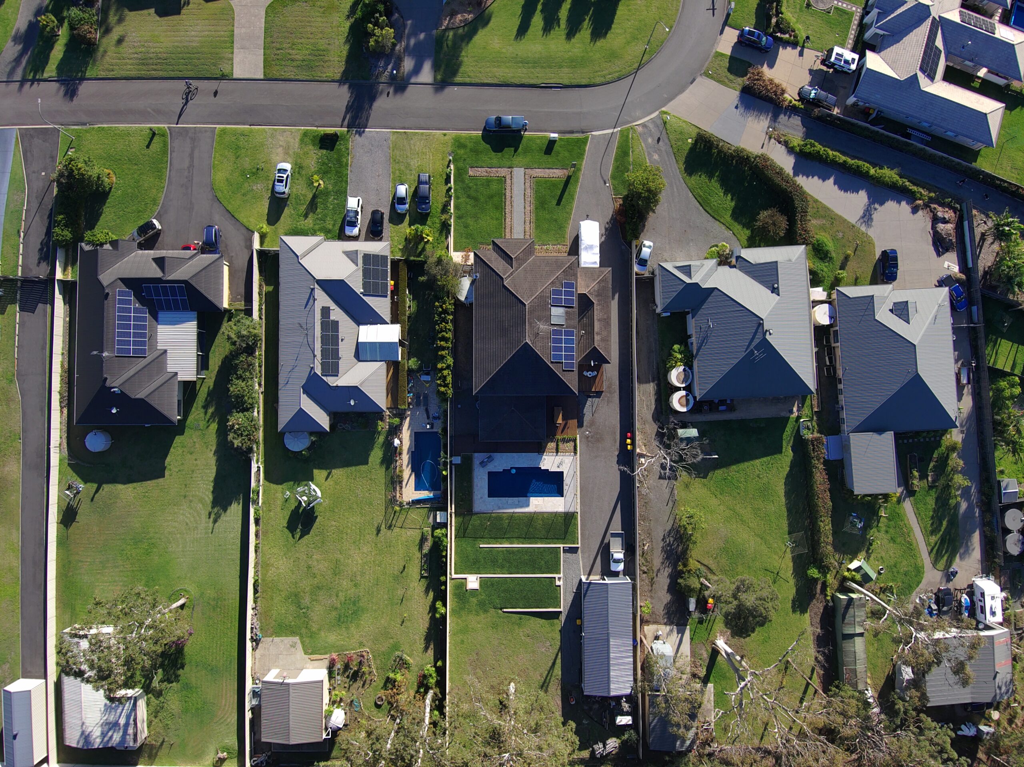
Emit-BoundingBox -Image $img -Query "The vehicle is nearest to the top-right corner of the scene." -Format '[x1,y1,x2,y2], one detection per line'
[814,47,862,78]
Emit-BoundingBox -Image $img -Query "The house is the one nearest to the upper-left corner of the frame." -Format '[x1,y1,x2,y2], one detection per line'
[74,239,228,425]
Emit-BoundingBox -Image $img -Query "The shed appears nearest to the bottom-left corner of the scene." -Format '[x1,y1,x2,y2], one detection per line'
[3,681,47,767]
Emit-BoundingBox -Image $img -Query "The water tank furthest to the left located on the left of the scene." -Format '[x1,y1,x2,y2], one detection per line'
[86,425,121,455]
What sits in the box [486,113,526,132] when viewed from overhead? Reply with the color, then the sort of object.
blue vehicle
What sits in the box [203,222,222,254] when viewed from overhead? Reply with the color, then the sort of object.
blue car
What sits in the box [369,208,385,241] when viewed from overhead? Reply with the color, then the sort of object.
black car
